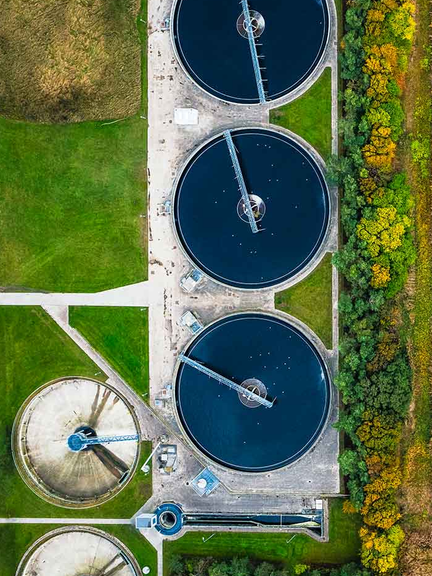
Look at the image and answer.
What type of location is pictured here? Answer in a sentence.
The area seen from above is an industrial area.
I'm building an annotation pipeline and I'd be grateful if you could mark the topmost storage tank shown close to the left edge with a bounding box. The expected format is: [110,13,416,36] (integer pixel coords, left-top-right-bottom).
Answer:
[12,377,141,507]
